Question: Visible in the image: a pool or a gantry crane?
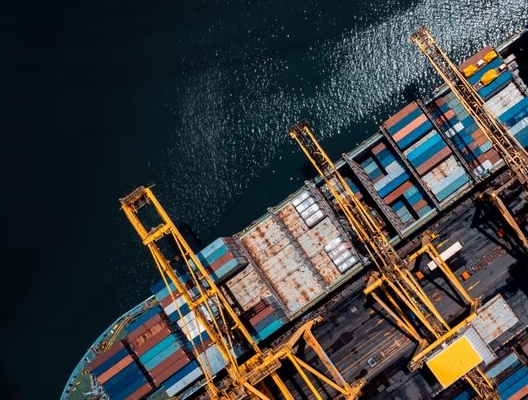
gantry crane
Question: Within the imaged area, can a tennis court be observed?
No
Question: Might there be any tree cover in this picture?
No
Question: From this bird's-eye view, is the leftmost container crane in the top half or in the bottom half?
bottom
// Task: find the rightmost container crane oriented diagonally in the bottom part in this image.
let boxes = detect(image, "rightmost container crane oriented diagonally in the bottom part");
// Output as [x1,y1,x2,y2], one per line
[285,121,506,400]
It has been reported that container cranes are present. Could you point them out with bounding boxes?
[117,181,364,400]
[407,24,528,260]
[285,121,506,400]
